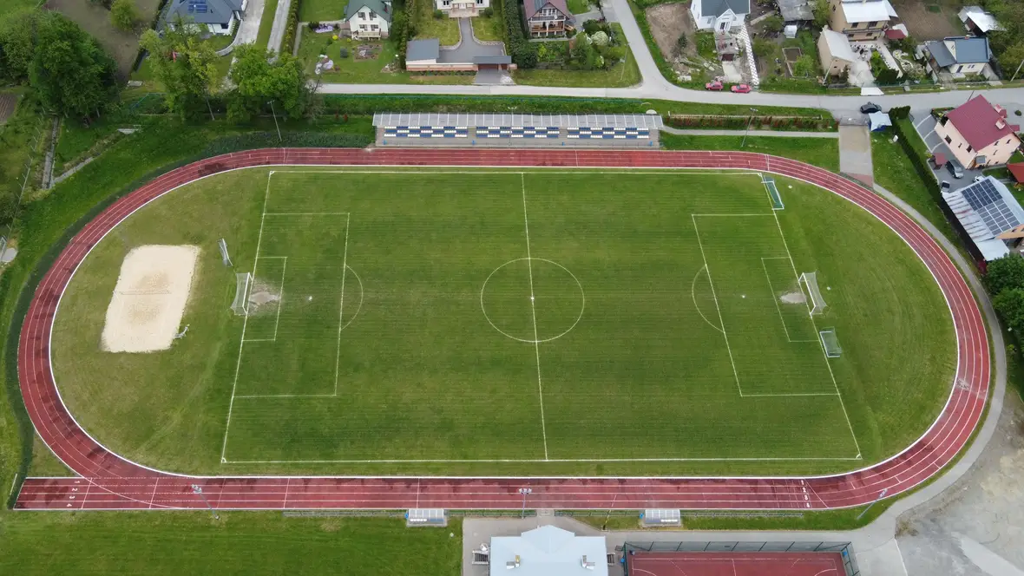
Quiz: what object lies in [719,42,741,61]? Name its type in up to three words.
building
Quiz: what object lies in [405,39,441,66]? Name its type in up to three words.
building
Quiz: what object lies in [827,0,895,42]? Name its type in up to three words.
house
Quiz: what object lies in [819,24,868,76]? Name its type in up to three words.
barn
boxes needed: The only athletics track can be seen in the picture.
[14,147,990,511]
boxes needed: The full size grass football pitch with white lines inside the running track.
[214,171,863,469]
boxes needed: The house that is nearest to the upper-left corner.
[166,0,236,36]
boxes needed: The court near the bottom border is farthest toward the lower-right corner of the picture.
[628,552,847,576]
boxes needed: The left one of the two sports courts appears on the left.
[101,245,200,352]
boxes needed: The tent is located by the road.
[869,113,892,133]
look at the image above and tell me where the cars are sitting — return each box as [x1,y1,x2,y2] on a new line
[705,81,725,91]
[947,158,966,177]
[860,104,884,114]
[970,172,984,181]
[730,84,753,93]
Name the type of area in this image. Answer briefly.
sports ground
